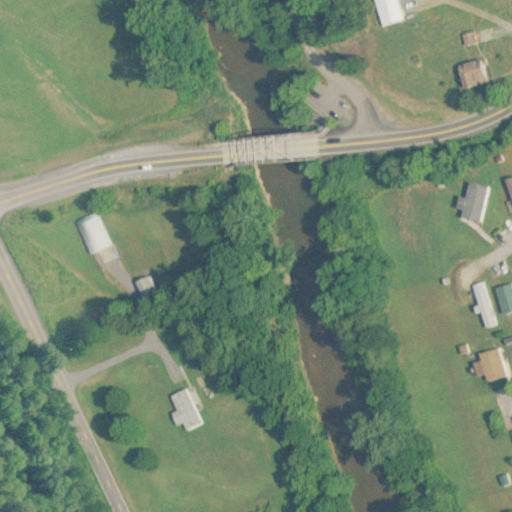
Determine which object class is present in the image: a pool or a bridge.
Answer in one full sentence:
The one in the frame is a bridge.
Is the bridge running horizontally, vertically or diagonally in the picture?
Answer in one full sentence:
The bridge is laid out horizontally.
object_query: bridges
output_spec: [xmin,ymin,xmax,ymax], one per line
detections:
[216,132,326,172]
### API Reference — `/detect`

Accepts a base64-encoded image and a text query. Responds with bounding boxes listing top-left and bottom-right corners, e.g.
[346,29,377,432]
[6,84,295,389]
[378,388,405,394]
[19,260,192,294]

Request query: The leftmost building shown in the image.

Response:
[78,213,112,256]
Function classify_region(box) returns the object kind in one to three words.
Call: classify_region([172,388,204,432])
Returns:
house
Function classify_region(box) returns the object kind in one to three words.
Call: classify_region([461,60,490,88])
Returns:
house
